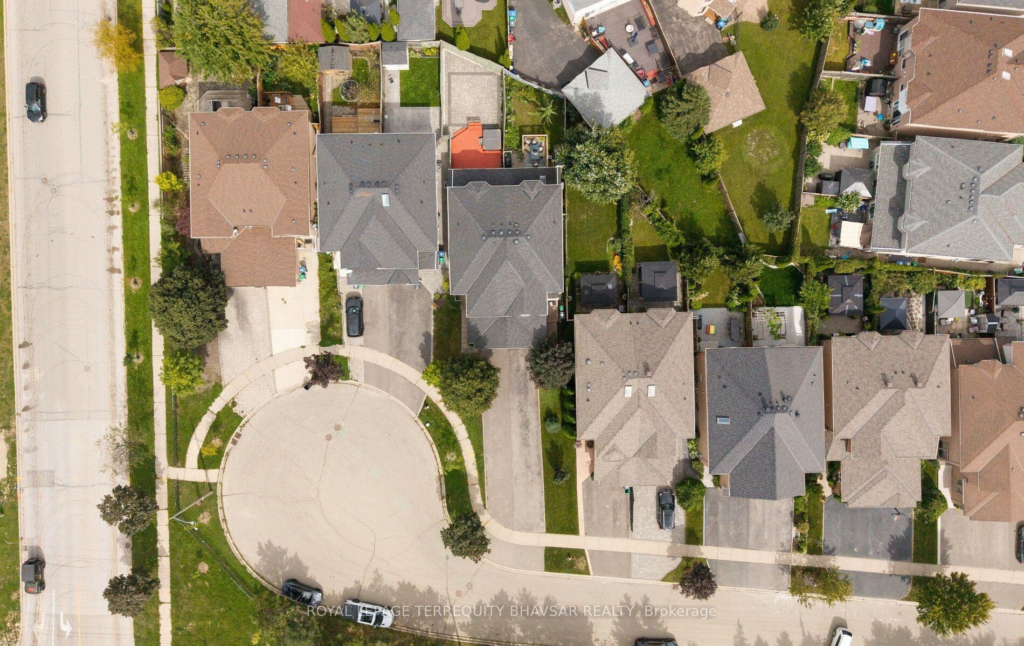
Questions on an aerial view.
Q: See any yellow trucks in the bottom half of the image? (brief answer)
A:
No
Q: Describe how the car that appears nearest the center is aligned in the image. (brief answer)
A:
from top to bottom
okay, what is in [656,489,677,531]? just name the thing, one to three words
car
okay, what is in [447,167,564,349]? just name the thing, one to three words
house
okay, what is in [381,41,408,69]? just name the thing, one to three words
shed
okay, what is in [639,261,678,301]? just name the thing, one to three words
gazebo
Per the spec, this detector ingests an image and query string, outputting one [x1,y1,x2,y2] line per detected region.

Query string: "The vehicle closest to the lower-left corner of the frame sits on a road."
[21,557,49,596]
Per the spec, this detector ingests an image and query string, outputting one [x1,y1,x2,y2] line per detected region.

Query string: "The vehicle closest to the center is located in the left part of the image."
[344,296,364,337]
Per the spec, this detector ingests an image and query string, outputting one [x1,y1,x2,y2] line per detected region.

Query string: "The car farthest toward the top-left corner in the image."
[24,82,50,124]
